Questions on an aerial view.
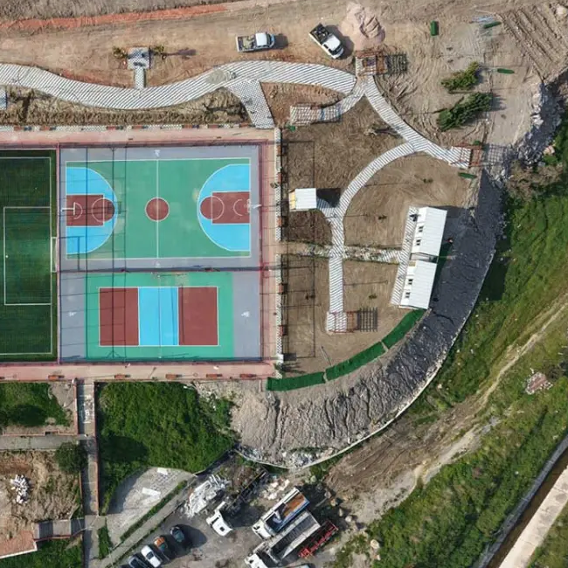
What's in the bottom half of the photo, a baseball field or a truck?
truck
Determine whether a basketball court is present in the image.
Yes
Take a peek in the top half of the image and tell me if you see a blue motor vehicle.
No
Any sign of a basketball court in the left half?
Yes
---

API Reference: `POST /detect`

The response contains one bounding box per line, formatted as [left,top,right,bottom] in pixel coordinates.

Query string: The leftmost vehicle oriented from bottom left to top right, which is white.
[209,466,271,537]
